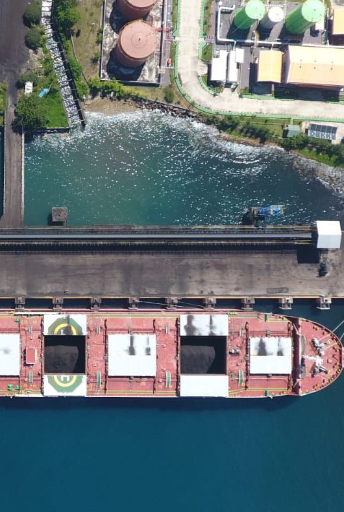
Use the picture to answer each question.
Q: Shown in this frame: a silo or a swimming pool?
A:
silo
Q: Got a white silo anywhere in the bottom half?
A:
No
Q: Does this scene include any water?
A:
Yes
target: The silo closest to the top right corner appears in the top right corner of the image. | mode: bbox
[284,0,327,36]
